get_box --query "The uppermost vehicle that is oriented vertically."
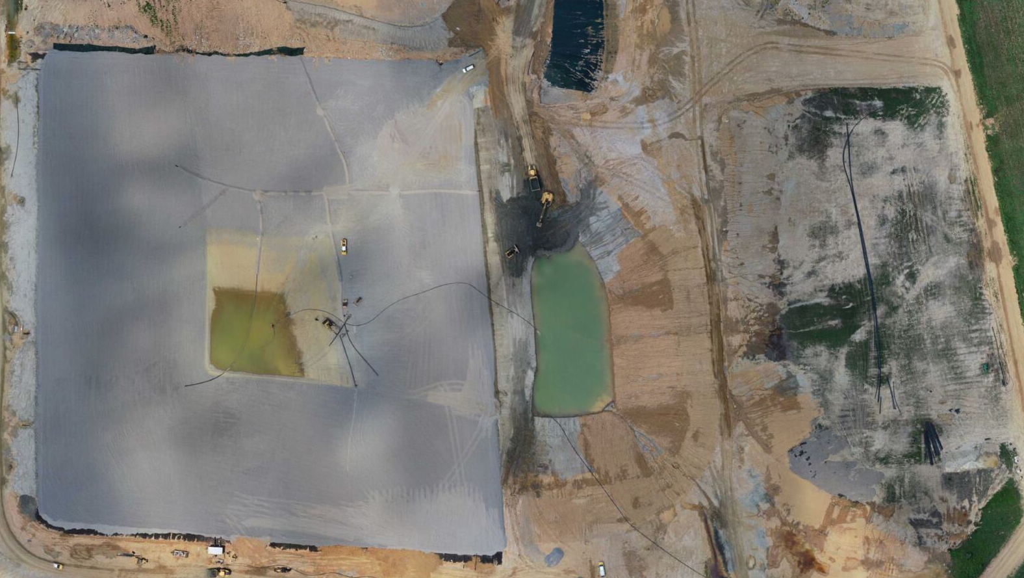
[528,167,540,191]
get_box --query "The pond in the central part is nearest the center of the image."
[531,243,615,418]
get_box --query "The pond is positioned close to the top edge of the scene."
[544,0,606,92]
